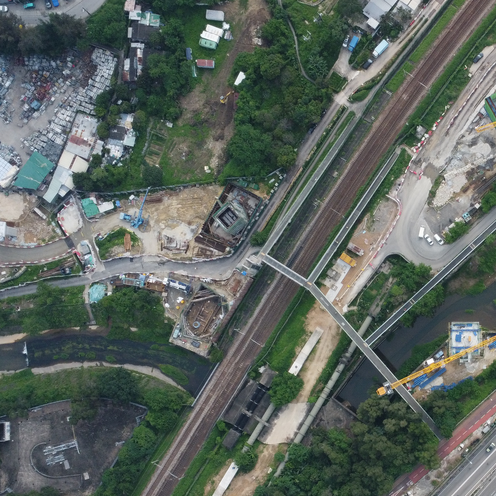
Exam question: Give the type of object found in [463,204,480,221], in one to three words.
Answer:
vehicle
